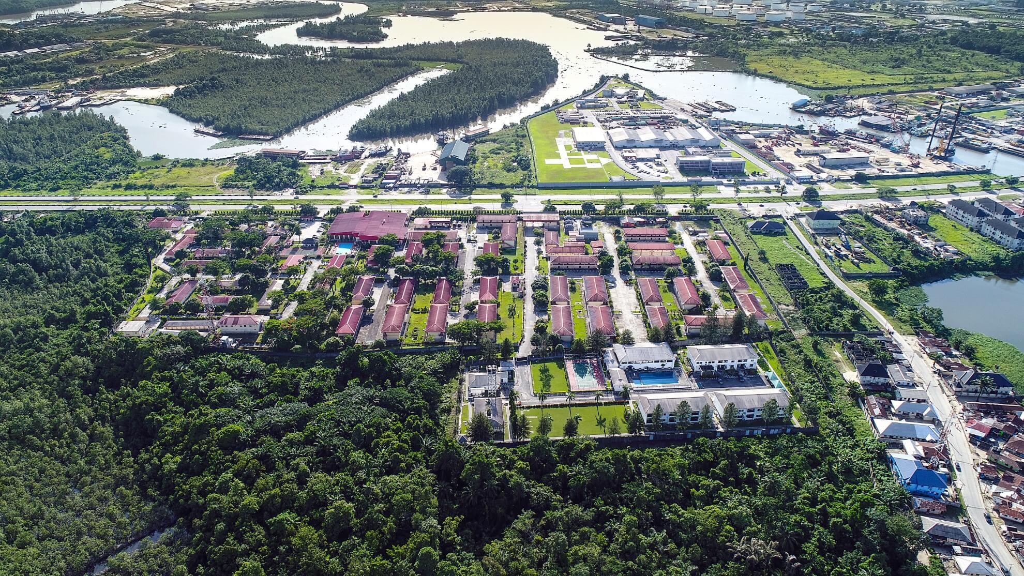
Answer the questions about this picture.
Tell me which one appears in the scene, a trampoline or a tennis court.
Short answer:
tennis court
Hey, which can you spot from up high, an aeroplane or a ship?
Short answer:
ship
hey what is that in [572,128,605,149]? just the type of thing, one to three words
building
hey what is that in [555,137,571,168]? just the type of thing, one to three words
helipad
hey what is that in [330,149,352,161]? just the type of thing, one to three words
boat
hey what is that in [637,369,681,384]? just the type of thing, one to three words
swimming pool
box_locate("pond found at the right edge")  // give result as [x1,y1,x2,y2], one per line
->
[923,276,1024,351]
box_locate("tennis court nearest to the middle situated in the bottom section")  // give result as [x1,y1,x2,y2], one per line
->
[565,351,607,390]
